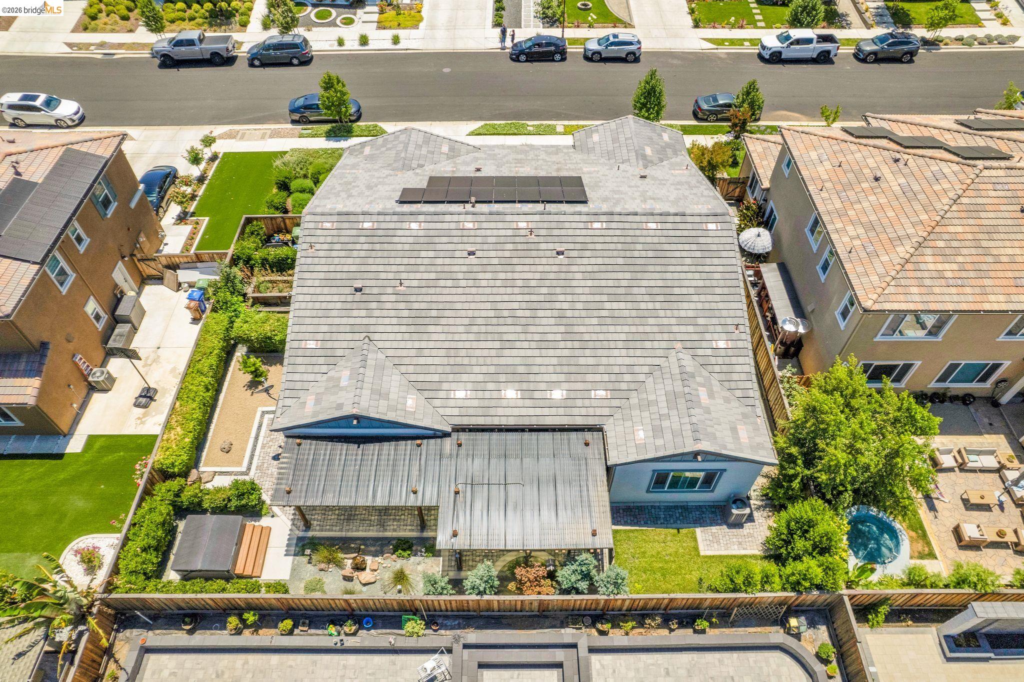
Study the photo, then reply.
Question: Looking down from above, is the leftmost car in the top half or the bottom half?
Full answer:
Seen from above, the leftmost car lies in the top half of the view.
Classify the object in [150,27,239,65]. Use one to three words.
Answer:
truck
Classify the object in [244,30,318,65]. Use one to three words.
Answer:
car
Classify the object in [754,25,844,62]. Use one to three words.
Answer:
truck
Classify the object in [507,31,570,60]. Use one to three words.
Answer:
car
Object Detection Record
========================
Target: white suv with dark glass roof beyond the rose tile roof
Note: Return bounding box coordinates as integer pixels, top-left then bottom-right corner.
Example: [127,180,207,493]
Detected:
[0,90,90,125]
